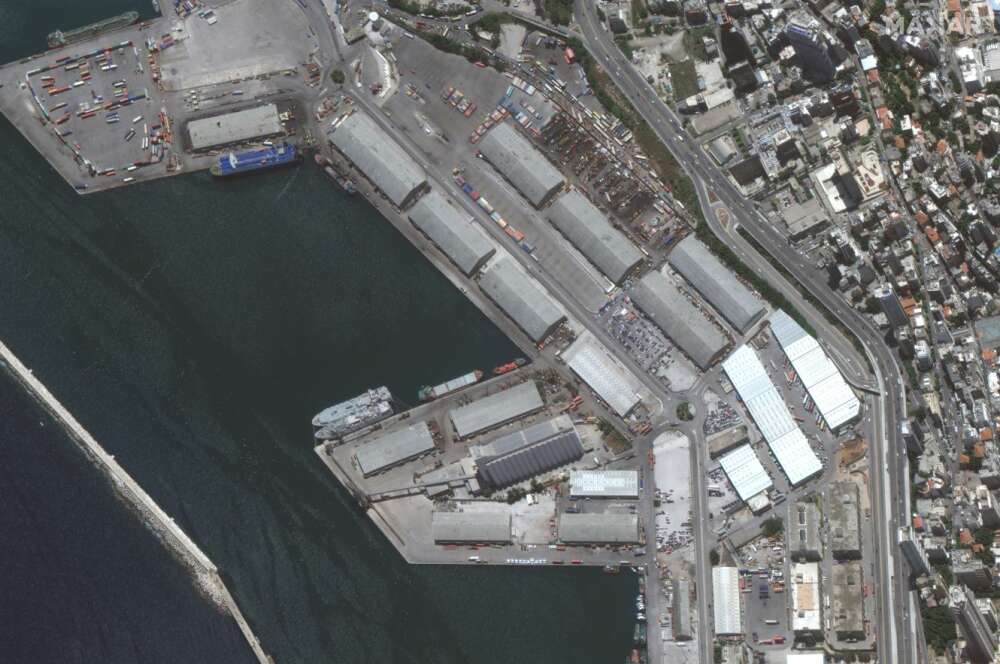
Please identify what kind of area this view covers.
port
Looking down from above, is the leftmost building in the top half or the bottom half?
top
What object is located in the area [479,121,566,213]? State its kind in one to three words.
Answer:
building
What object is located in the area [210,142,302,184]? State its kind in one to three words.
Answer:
ship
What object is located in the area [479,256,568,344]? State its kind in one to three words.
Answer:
building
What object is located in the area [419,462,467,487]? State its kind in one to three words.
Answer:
shed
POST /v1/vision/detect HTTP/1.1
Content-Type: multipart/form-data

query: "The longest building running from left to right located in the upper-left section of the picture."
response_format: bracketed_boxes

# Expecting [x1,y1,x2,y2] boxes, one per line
[188,103,283,152]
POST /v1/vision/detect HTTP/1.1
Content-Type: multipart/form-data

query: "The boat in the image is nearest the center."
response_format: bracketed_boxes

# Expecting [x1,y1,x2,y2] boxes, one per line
[493,359,528,376]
